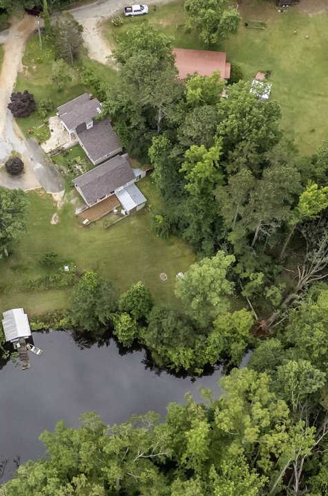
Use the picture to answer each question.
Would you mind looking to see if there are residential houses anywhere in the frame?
Yes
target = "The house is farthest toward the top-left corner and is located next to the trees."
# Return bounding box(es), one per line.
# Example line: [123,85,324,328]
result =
[53,91,101,143]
